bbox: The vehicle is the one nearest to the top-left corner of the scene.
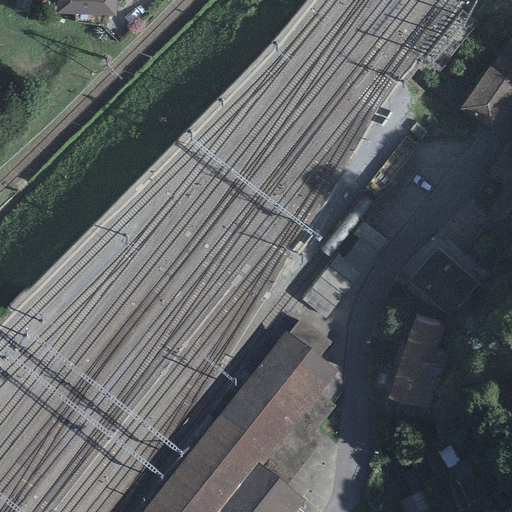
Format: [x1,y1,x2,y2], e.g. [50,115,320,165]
[124,4,146,24]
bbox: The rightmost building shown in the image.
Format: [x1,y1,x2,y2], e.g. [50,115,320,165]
[462,65,512,130]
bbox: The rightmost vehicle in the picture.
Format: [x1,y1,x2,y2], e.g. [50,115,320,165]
[412,174,434,194]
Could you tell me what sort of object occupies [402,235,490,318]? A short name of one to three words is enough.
house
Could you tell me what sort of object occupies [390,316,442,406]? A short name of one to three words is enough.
house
